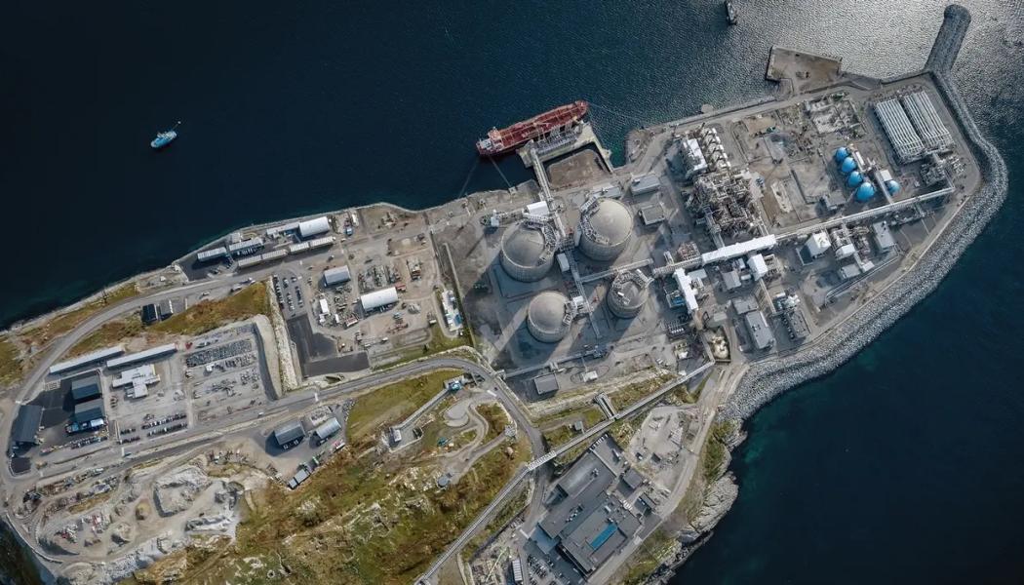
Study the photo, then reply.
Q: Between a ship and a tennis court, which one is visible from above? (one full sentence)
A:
The image shows a ship.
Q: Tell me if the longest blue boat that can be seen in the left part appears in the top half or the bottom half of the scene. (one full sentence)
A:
You can find the longest blue boat that can be seen in the left part in the top half.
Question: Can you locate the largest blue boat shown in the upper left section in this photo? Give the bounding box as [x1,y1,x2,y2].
[149,126,189,148]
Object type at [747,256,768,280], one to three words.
building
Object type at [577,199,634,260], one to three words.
storage tank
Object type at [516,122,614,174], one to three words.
pier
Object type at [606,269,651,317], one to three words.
storage tank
